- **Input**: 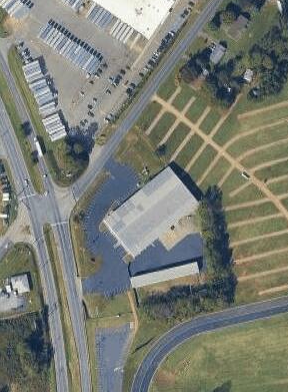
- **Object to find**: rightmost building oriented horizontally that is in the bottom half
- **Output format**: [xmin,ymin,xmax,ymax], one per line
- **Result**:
[131,262,200,287]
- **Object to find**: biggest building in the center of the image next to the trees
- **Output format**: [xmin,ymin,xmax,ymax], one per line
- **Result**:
[103,166,197,261]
